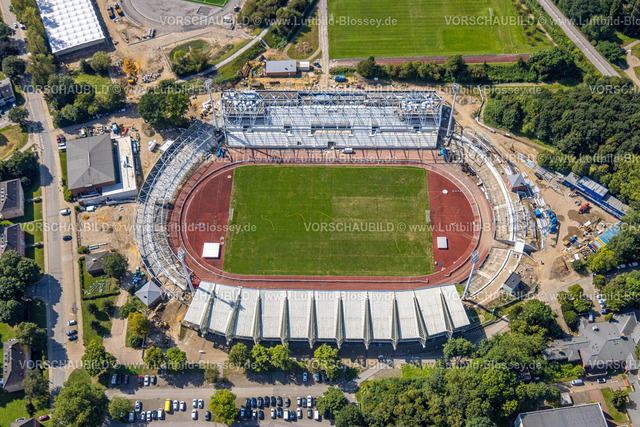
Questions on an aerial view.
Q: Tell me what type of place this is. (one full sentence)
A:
The area seen from above is a sports ground.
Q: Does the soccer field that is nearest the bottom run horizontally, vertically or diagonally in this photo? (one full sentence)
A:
Seen from above, the soccer field that is nearest the bottom lies horizontally.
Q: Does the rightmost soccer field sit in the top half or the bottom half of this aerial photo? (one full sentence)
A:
The rightmost soccer field is in the top half of the image.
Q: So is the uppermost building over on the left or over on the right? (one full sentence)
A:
It is on the left.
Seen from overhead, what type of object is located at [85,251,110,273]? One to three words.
building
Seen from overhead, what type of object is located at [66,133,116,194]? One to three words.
building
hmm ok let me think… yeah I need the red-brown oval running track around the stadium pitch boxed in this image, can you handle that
[166,151,494,291]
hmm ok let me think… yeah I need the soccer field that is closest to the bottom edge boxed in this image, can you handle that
[222,164,435,275]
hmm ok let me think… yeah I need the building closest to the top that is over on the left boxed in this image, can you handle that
[36,0,106,60]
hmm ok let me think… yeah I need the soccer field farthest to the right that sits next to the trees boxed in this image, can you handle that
[329,0,533,59]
